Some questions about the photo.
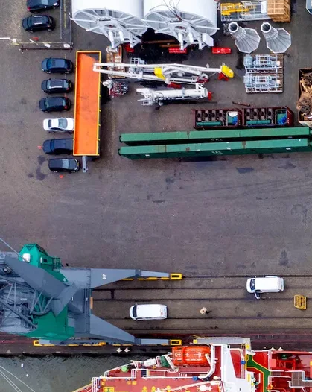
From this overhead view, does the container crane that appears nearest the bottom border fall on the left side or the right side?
left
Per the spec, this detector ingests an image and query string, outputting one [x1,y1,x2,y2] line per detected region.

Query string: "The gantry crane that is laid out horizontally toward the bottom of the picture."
[0,237,179,345]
